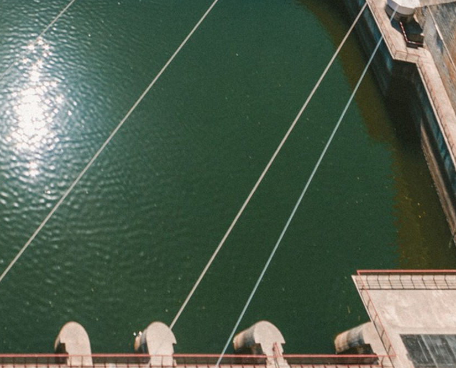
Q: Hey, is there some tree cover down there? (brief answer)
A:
No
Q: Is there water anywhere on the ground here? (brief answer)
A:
Yes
